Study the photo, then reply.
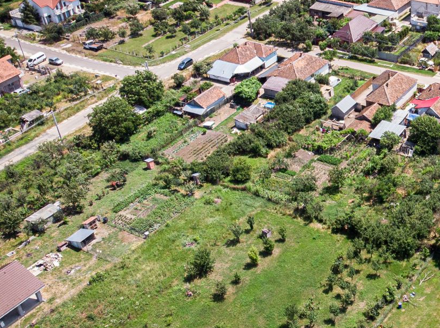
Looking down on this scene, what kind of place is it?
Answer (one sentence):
The area seen from above is a residential area.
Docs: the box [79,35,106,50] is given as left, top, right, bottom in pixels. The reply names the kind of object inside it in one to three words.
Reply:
vehicle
